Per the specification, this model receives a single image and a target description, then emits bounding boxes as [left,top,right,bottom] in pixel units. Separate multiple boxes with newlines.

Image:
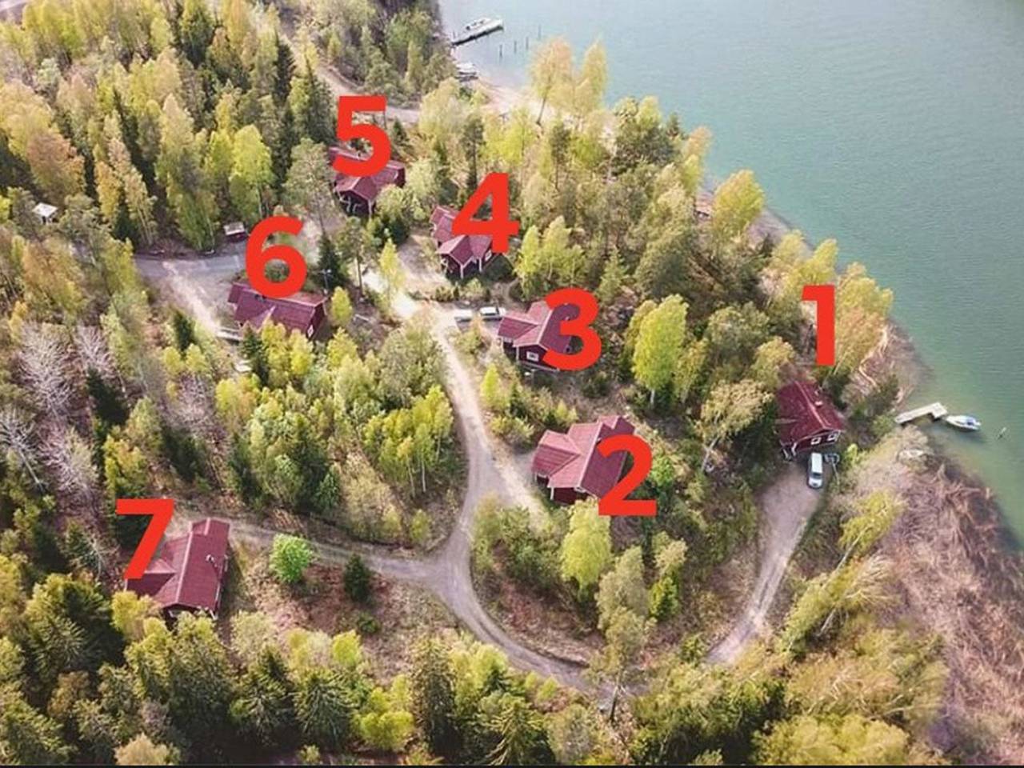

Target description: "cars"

[807,453,826,489]
[479,307,505,321]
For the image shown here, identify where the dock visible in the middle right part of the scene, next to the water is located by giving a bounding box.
[890,403,949,427]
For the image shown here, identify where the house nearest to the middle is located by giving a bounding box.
[497,291,582,372]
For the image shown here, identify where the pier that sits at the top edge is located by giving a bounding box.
[446,22,506,46]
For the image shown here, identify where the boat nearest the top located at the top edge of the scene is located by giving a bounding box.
[467,19,487,32]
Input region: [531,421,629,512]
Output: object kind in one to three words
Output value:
house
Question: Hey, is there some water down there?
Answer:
Yes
